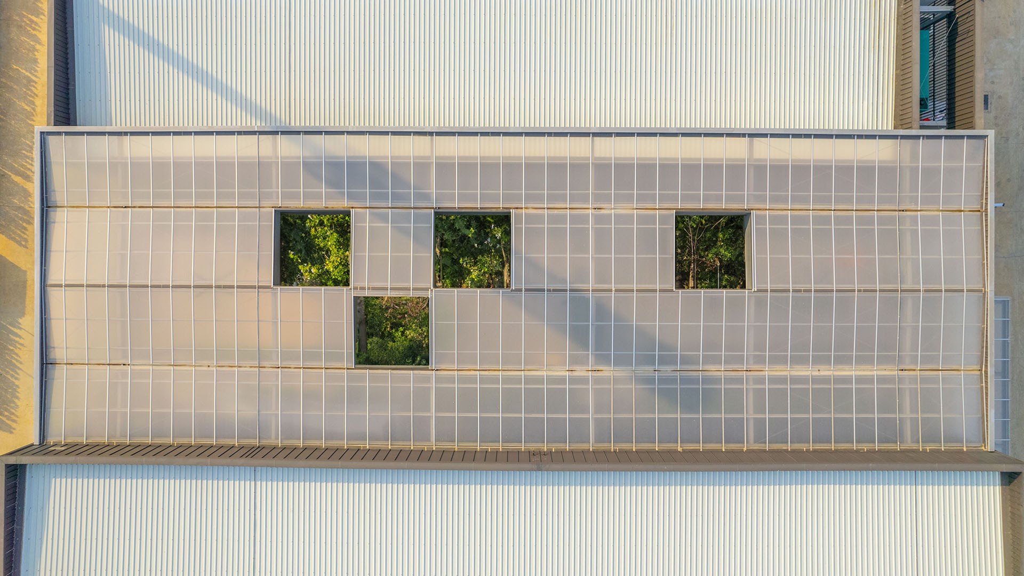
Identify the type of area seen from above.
industrial area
